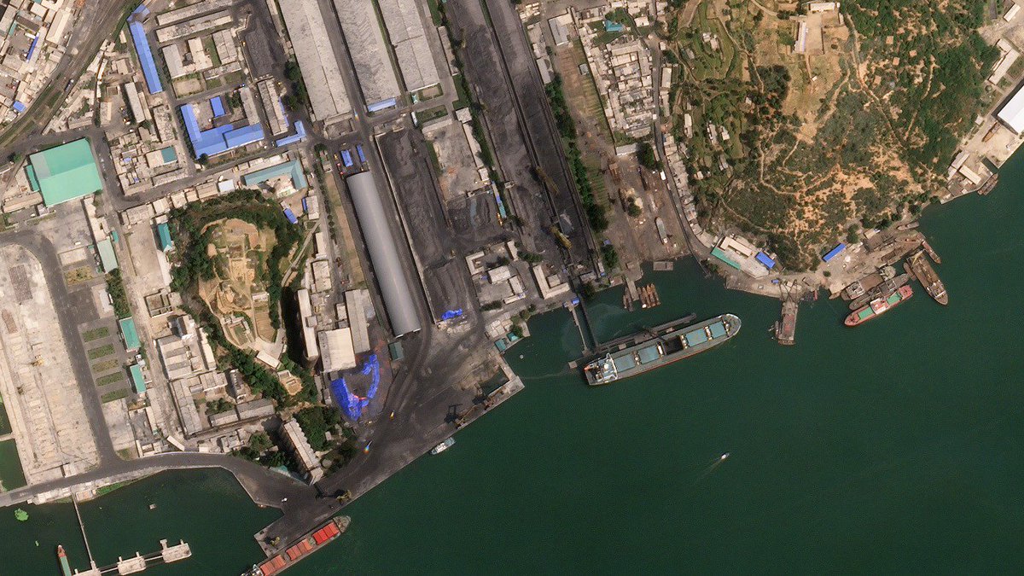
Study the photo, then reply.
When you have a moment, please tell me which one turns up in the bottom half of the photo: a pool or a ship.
ship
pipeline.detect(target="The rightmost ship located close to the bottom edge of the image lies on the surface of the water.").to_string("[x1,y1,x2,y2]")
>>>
[243,517,352,576]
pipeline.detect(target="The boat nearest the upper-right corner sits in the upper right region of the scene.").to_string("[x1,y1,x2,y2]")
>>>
[983,123,998,142]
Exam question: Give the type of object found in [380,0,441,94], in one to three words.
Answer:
shed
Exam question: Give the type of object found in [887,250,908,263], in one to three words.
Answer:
boat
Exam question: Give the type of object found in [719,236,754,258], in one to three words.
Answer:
building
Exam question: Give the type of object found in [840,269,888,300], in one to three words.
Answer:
ship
